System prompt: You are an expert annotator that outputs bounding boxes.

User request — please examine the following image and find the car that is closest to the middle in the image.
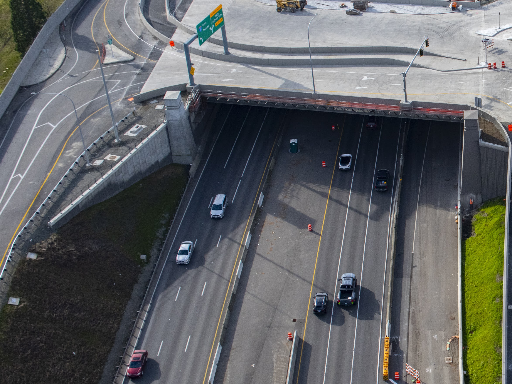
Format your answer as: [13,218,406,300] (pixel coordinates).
[209,193,227,217]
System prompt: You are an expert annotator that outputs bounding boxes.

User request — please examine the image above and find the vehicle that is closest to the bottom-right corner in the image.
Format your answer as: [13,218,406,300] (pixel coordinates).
[338,275,357,306]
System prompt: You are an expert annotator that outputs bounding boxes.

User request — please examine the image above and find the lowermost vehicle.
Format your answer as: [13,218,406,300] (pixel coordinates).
[127,350,147,378]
